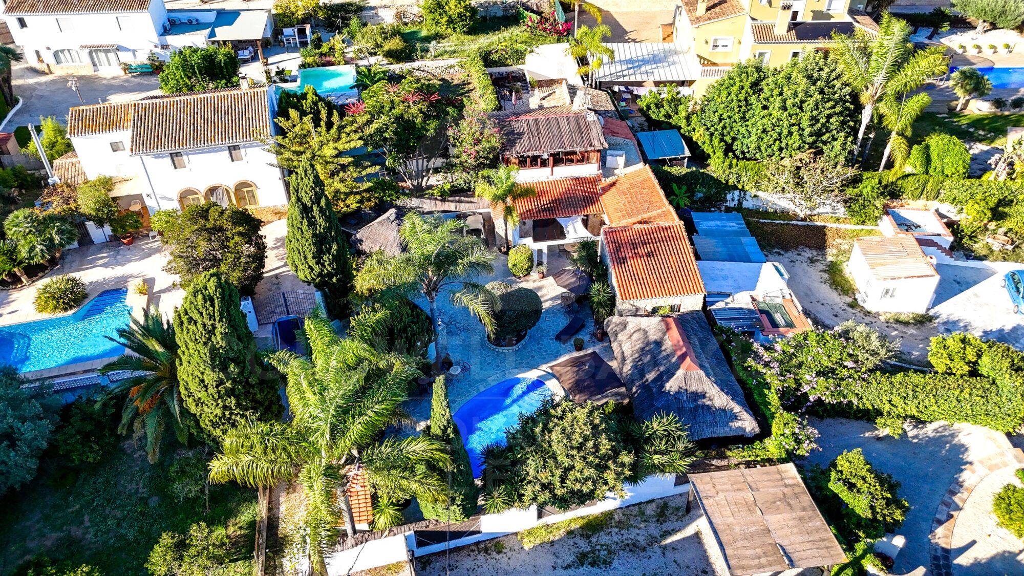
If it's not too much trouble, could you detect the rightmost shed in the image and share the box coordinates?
[839,236,941,317]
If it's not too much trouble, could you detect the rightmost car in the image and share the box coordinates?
[1004,266,1024,314]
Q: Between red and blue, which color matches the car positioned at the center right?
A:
blue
